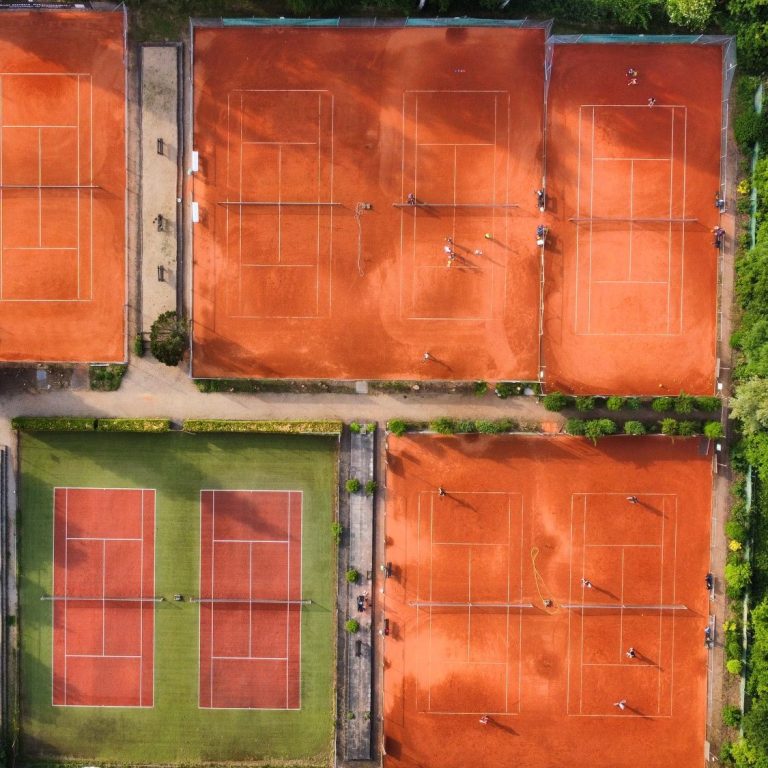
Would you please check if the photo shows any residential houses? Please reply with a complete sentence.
No, the frame has no residential house in it.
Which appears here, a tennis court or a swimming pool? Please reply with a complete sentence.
Visible in the photo is a tennis court.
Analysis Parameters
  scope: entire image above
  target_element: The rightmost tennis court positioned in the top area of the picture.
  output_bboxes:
[541,44,722,396]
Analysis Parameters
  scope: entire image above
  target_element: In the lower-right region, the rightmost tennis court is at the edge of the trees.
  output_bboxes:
[544,435,712,768]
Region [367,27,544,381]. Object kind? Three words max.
tennis court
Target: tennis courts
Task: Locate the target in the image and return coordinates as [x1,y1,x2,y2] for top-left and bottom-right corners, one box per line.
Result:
[544,435,712,768]
[367,27,544,381]
[192,26,368,380]
[19,429,178,767]
[384,433,546,768]
[0,10,124,361]
[541,44,722,396]
[177,430,338,767]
